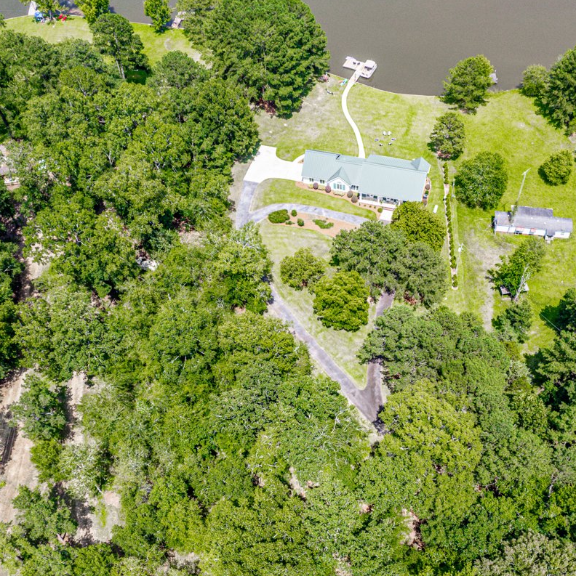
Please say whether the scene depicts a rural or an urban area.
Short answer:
rural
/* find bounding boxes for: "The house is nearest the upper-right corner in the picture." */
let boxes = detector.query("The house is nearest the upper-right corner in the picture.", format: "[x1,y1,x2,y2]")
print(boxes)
[493,204,573,248]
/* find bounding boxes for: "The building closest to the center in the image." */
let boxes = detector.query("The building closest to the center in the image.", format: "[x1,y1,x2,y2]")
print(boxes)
[301,147,434,215]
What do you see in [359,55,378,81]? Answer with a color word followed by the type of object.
white boat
